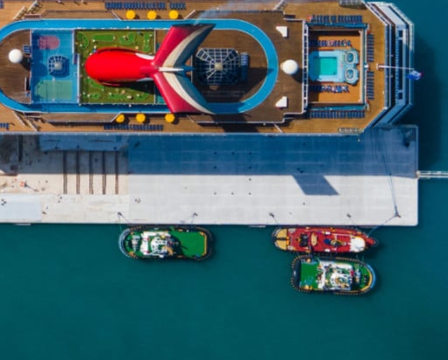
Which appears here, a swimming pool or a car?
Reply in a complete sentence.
This aerial view contains a swimming pool.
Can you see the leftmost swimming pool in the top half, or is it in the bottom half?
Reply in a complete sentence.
The top half of the photo is where the leftmost swimming pool is.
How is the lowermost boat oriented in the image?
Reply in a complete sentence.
I'd say the lowermost boat is aligned from left to right in the picture.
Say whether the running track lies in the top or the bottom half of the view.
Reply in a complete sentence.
The running track sits in the top half of the picture.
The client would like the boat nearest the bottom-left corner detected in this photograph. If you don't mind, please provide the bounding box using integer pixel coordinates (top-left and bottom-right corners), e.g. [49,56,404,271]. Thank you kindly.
[118,226,213,262]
